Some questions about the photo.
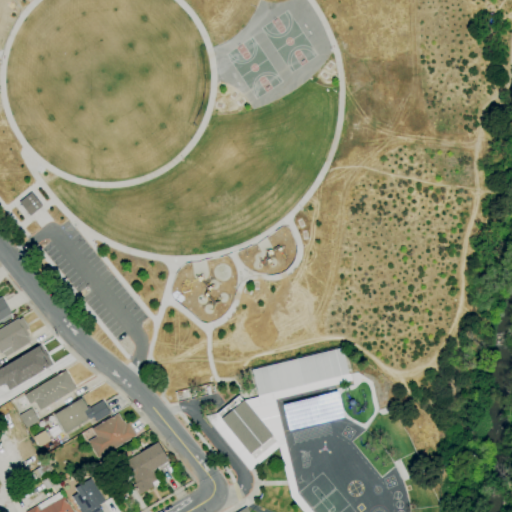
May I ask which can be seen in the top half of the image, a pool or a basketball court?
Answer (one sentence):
The one visible in the top half of the image is a basketball court.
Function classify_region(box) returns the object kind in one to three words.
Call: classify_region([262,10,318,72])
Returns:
basketball court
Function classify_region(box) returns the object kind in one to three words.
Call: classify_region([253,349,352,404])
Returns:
building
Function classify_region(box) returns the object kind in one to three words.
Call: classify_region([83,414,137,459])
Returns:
house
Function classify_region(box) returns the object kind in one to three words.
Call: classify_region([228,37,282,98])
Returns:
basketball court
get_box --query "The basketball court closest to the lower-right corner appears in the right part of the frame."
[300,473,355,512]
